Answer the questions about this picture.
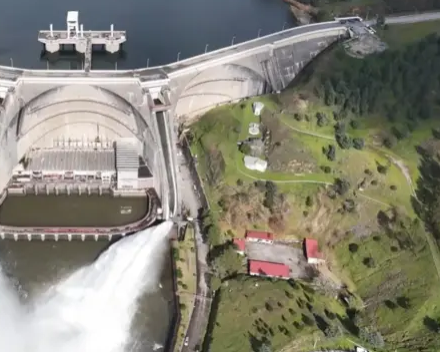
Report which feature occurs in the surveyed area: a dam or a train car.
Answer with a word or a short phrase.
dam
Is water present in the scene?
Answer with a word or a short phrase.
Yes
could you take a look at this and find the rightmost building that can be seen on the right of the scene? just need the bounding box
[305,238,323,263]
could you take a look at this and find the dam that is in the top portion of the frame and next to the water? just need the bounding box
[0,18,360,230]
